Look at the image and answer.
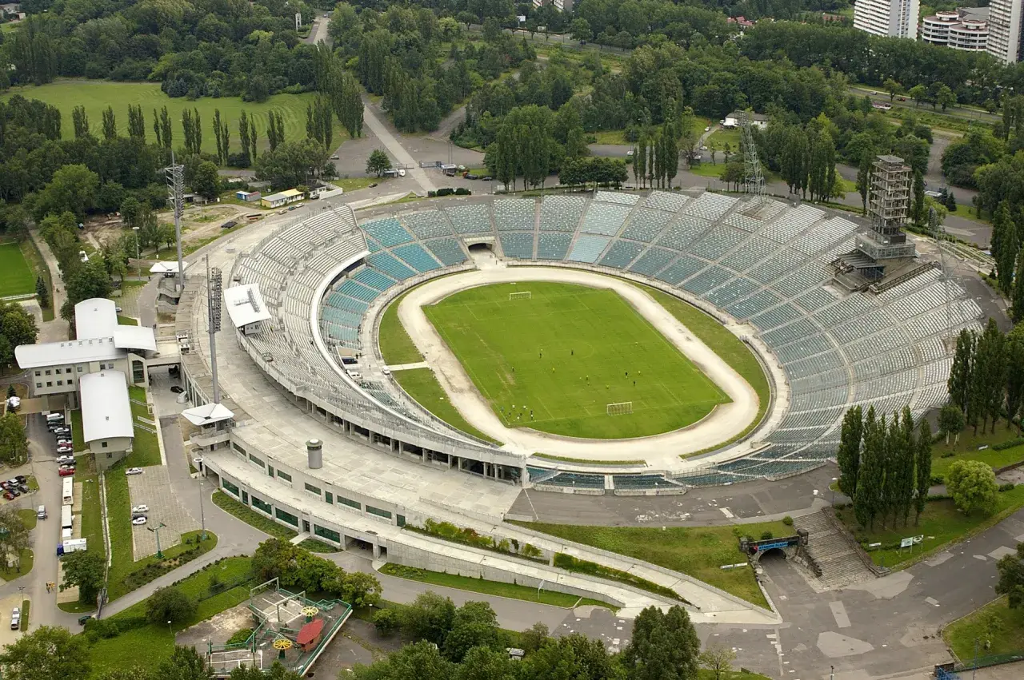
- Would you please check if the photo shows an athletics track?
Yes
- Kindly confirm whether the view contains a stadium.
Yes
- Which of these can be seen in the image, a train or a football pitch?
football pitch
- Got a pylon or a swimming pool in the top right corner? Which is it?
pylon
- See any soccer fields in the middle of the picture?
Yes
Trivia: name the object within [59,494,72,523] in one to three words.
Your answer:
vehicle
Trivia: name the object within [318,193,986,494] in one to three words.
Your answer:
stadium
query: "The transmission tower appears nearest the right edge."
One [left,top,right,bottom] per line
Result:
[932,194,962,300]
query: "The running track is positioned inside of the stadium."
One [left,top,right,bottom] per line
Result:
[398,268,759,462]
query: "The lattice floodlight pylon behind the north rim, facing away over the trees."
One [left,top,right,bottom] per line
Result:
[737,99,765,199]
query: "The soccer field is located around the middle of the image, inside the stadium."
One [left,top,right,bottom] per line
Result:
[421,281,732,438]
